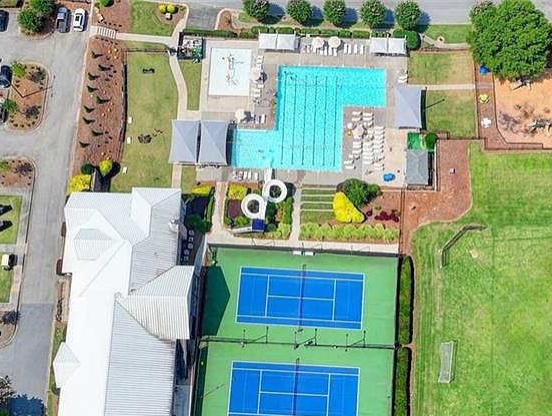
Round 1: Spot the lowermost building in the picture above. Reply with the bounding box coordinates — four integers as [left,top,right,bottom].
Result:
[52,186,199,416]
